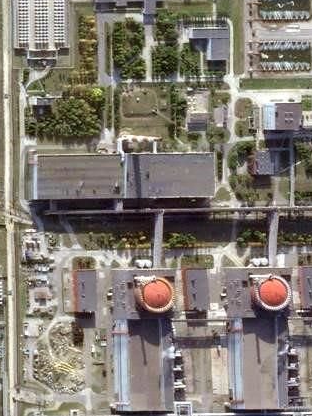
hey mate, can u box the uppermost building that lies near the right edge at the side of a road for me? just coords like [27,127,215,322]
[264,102,303,129]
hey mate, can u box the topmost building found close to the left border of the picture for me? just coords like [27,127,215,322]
[11,0,69,46]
